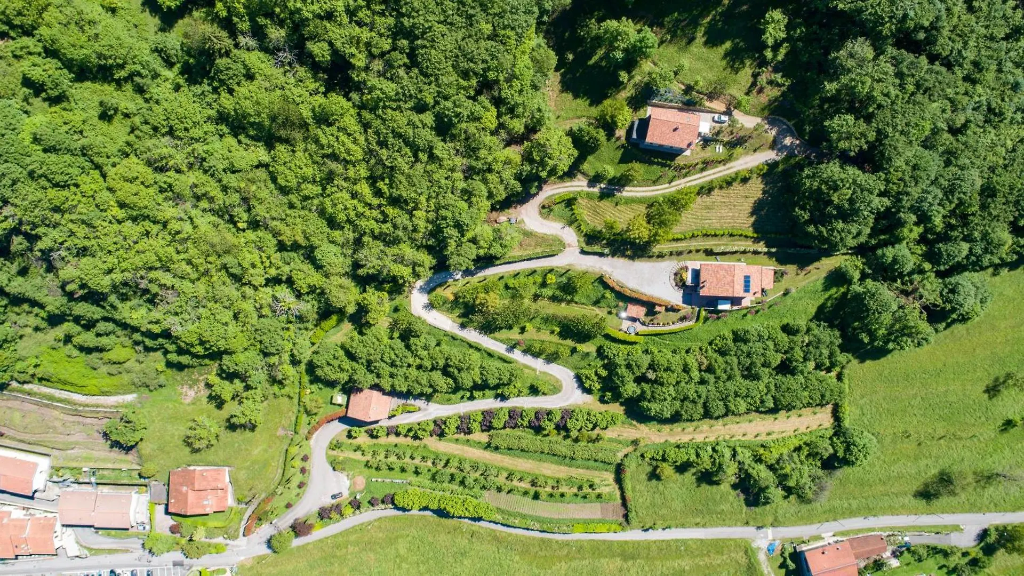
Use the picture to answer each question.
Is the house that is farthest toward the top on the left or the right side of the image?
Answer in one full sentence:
The house that is farthest toward the top is on the right side of the image.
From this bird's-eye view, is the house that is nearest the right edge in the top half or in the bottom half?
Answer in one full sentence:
The bottom half of the photo is where the house that is nearest the right edge is.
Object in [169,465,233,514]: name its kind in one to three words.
house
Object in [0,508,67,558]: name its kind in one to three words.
house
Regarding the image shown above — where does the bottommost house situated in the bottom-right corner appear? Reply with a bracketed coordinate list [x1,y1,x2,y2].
[799,533,887,576]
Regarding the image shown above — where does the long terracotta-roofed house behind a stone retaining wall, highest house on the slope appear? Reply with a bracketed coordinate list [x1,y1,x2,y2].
[644,107,700,152]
